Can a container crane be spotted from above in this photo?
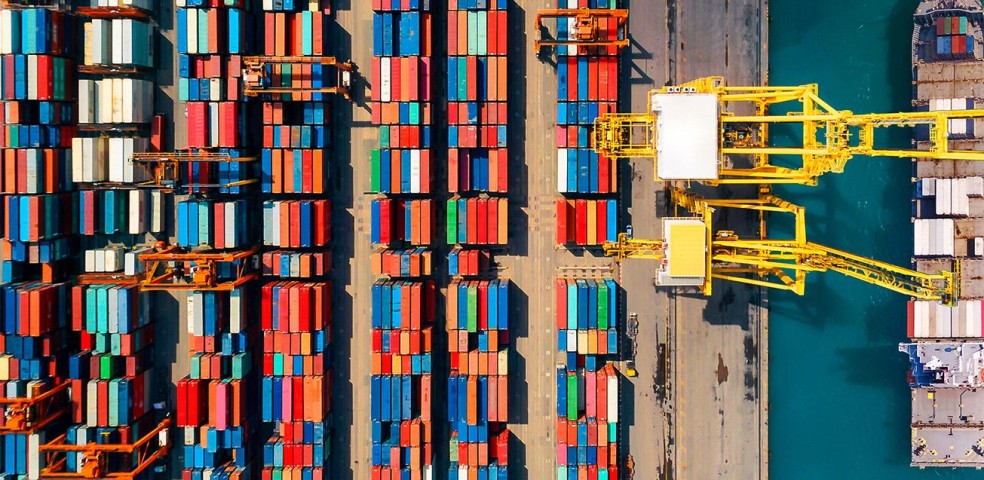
Yes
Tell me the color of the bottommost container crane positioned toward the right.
yellow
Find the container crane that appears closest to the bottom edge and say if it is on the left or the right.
left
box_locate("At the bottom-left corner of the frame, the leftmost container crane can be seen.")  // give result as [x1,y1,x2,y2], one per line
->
[0,376,72,436]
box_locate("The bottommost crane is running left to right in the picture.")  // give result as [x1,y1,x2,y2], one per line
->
[36,407,180,480]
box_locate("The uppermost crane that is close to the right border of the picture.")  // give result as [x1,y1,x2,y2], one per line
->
[594,73,984,192]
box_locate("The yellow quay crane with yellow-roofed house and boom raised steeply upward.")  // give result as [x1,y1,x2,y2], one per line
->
[604,187,959,305]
